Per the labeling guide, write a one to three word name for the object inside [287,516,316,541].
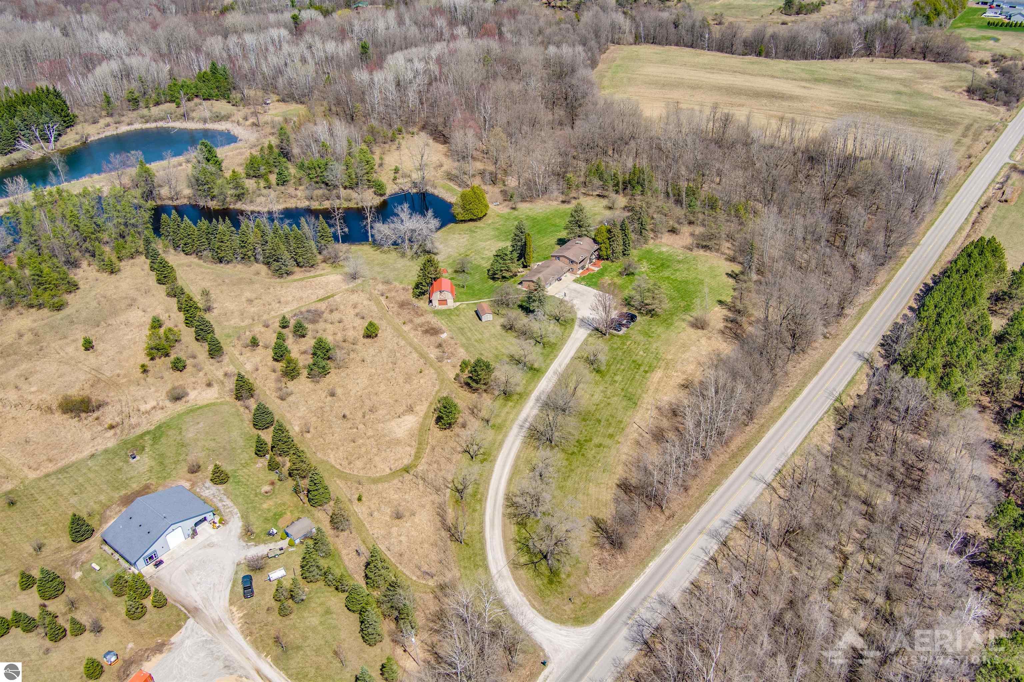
shed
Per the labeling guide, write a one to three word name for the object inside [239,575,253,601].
vehicle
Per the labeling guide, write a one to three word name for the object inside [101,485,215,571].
barn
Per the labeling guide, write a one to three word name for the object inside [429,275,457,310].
barn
